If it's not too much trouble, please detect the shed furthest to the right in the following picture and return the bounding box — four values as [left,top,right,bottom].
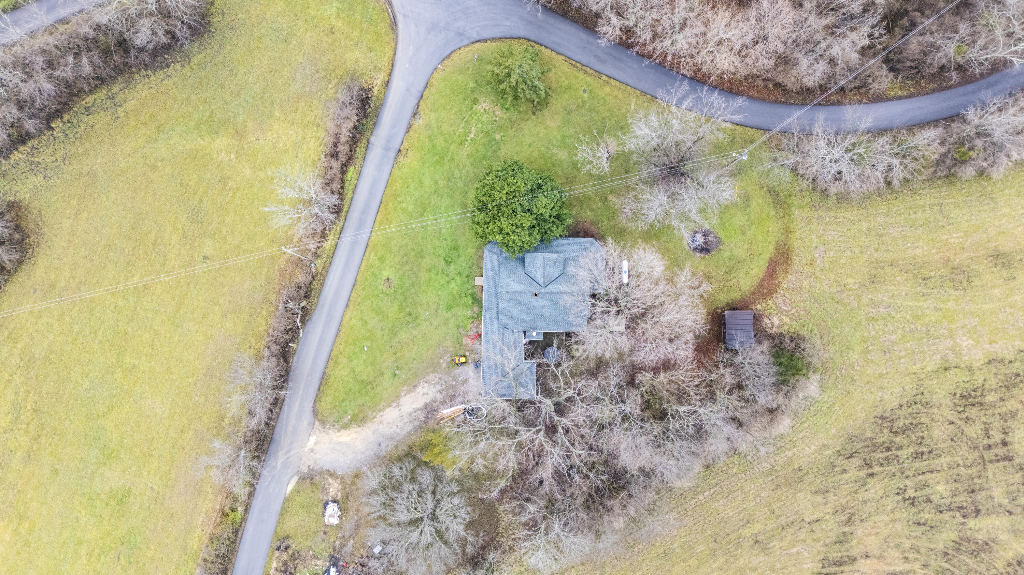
[720,311,754,349]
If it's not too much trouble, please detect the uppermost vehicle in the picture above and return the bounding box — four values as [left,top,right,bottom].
[452,355,466,367]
